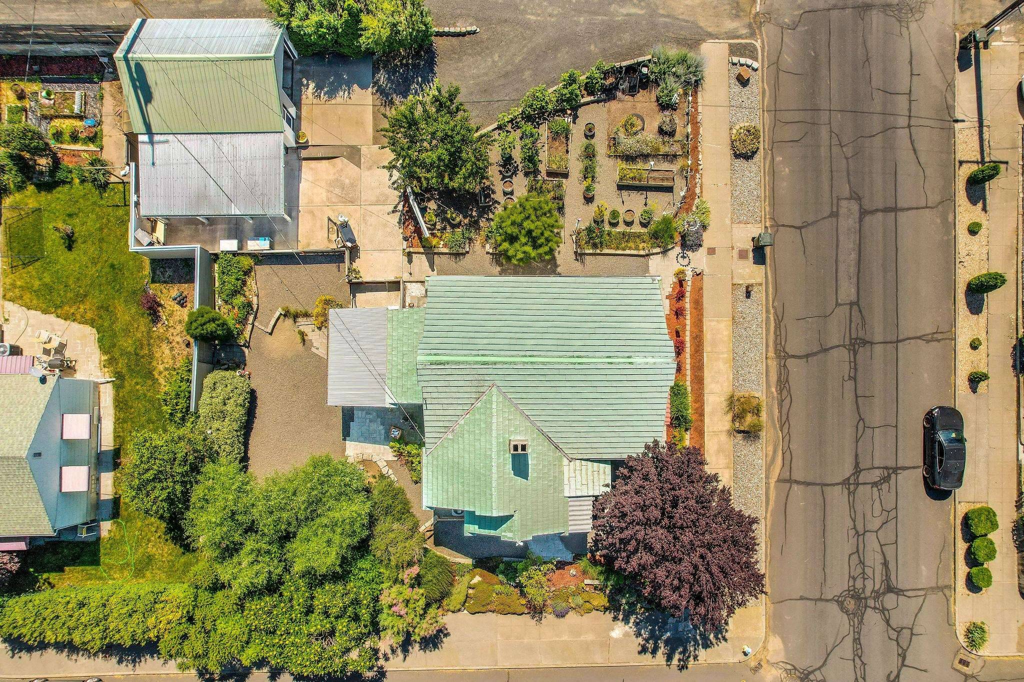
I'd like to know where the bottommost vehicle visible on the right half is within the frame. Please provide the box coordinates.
[920,406,966,489]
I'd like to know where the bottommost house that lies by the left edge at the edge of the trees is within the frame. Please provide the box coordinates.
[0,356,98,550]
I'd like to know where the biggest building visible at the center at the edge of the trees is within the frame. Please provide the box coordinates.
[328,274,680,545]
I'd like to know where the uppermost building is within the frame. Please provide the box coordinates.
[114,18,298,146]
